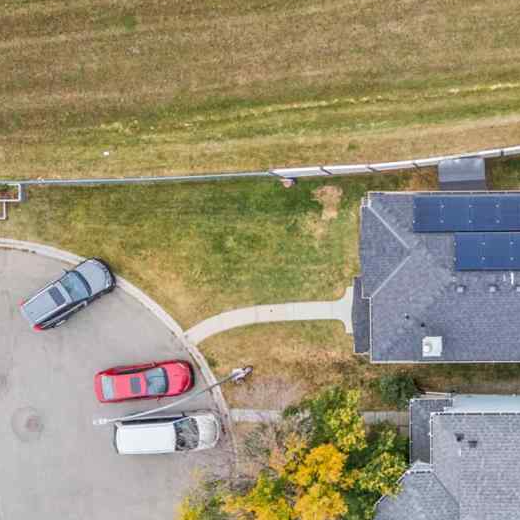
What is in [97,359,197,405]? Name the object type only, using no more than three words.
car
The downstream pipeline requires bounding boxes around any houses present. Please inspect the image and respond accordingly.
[368,393,520,520]
[350,191,520,361]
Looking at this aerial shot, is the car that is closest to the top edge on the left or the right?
left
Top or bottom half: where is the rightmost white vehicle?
bottom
